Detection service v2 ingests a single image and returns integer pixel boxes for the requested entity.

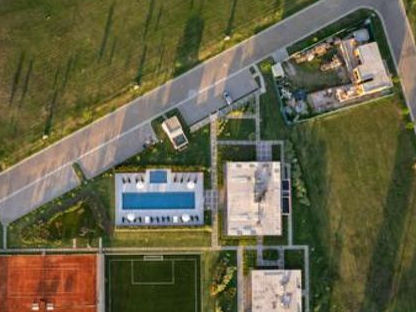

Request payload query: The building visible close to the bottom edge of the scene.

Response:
[249,268,302,312]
